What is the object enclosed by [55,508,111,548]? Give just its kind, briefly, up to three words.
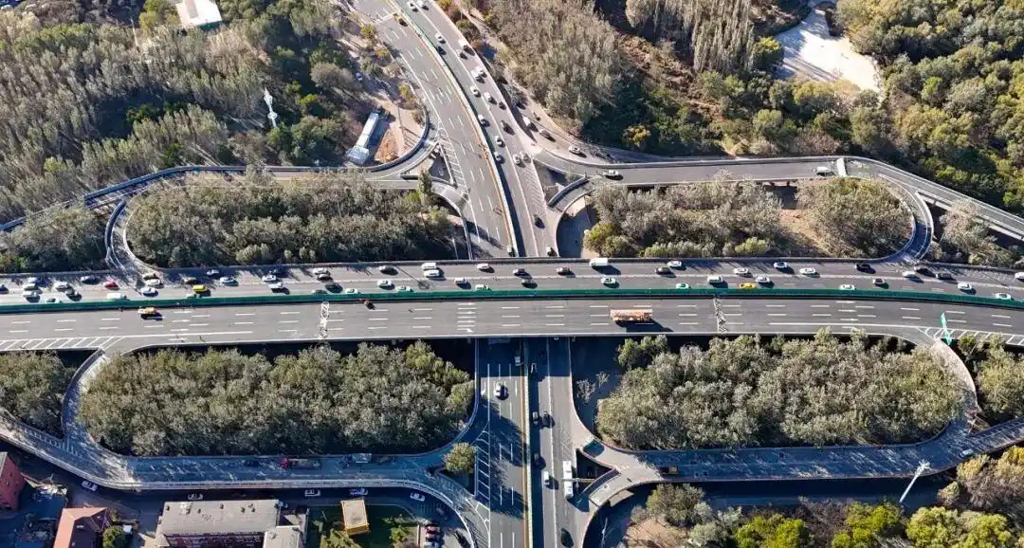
house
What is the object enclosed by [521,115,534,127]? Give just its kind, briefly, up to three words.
vehicle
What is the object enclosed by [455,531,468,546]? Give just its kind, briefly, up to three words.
vehicle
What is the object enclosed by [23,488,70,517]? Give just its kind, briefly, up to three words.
shed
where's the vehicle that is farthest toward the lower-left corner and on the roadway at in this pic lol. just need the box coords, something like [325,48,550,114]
[81,480,97,492]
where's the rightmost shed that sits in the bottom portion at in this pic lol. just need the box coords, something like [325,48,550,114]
[341,499,370,535]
